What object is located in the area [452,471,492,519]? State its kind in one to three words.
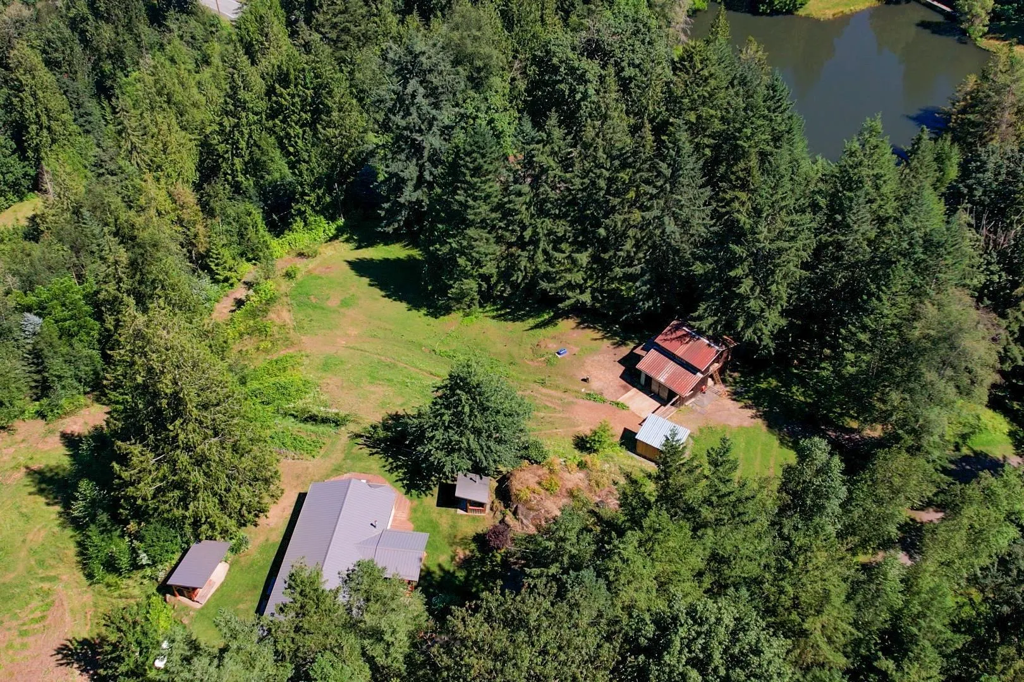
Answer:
building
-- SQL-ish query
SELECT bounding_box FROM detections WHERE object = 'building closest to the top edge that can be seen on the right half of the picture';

[635,317,736,411]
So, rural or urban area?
rural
